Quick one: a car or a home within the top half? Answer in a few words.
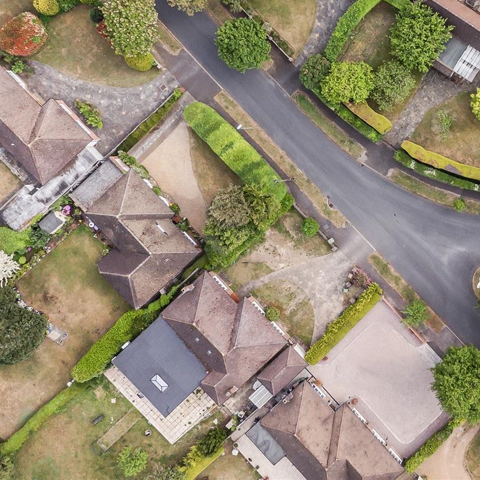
home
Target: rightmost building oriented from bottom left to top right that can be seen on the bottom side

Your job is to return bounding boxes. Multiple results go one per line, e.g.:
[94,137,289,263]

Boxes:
[248,339,310,408]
